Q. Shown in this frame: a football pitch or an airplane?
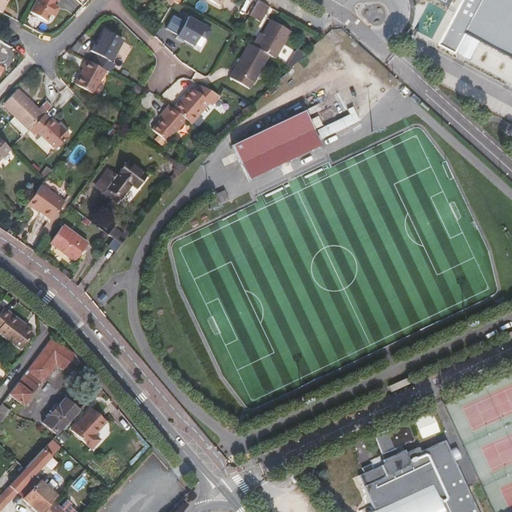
football pitch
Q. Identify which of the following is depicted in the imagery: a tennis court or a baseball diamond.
tennis court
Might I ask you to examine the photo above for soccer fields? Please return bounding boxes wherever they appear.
[172,126,497,406]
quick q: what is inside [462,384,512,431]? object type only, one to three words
tennis court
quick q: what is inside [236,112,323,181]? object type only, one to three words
building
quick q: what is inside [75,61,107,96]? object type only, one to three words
house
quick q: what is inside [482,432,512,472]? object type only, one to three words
tennis court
